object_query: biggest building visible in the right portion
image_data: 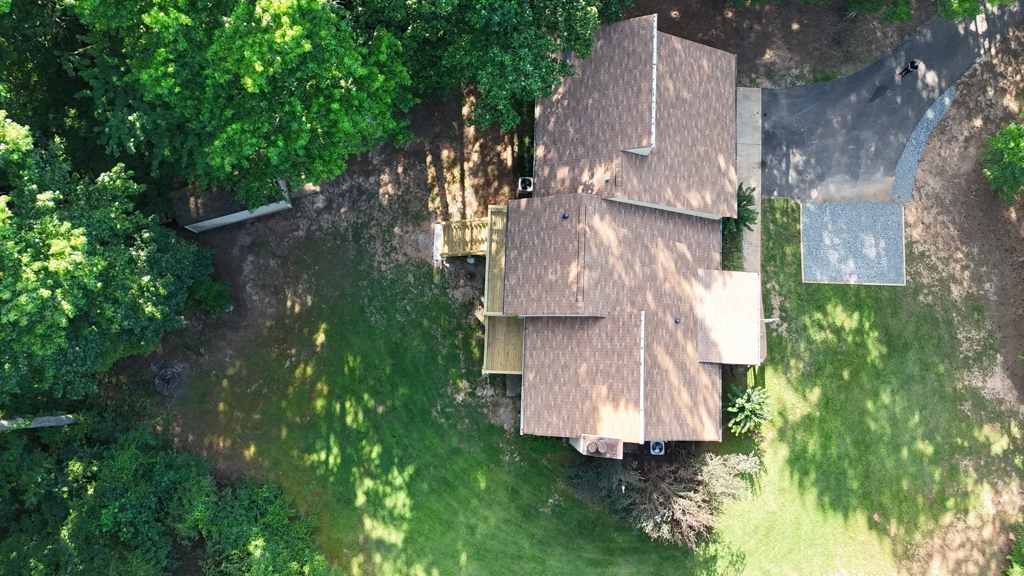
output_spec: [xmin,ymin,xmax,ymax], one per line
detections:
[501,16,761,458]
